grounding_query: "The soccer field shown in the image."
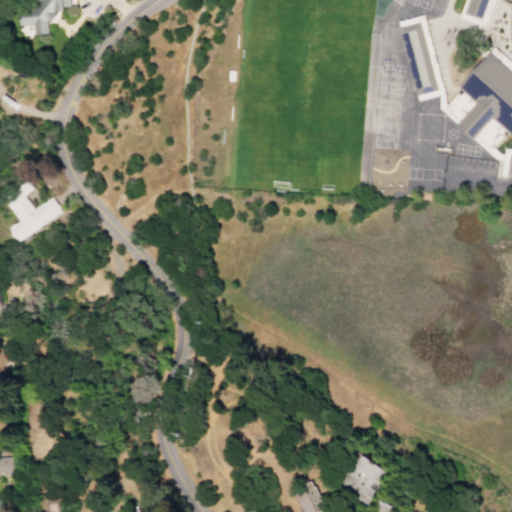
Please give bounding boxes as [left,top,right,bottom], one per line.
[235,0,376,188]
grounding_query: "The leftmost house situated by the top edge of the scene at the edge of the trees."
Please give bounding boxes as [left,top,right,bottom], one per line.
[19,0,62,34]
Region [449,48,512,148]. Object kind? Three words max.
building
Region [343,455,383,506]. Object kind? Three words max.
house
